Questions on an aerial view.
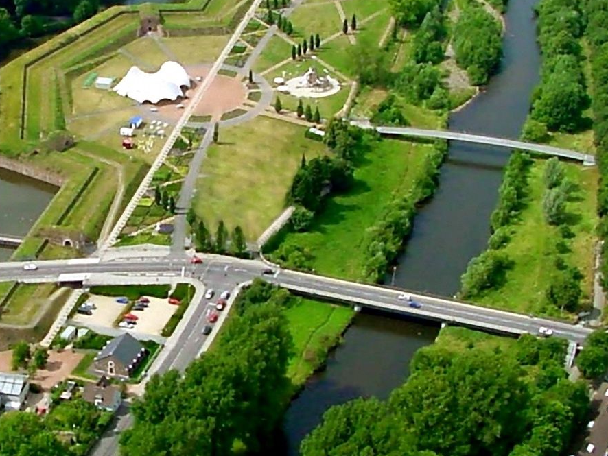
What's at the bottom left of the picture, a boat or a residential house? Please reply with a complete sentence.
It is a residential house that can be seen at the bottom left of the picture.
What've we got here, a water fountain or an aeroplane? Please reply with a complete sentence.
I can see a water fountain in this picture.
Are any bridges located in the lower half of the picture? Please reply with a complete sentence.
Yes, I can see a bridge in the lower half of the picture.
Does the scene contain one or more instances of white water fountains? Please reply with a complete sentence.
Yes, there is a white water fountain in the image.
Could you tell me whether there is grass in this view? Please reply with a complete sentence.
Yes, some grass is visible.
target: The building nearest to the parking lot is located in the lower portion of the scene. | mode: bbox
[92,331,149,377]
